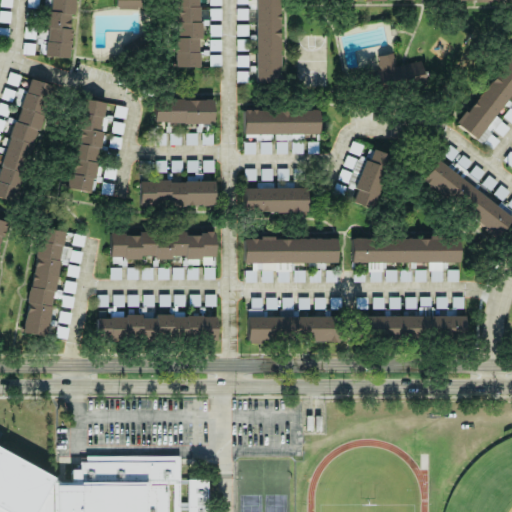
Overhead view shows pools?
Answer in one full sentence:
Yes, there's a pool here.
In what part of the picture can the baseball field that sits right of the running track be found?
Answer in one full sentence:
The baseball field that sits right of the running track appears toward the bottom right of the photo.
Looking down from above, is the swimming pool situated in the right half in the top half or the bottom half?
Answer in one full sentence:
The top half of the photo is where the swimming pool situated in the right half is.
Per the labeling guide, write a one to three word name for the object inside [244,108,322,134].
building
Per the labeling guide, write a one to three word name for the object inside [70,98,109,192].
building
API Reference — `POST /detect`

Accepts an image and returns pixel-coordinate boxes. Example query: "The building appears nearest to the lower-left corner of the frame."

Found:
[0,446,58,512]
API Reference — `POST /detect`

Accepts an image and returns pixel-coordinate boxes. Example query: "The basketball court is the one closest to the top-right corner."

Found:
[299,34,327,87]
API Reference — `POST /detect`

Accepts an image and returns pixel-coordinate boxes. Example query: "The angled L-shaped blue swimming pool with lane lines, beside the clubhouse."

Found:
[336,22,394,73]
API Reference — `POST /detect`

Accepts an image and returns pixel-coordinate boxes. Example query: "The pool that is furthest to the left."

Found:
[92,9,144,62]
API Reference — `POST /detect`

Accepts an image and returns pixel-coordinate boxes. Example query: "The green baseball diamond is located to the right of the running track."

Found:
[446,438,512,512]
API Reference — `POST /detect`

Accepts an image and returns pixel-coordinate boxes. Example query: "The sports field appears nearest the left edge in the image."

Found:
[316,446,420,512]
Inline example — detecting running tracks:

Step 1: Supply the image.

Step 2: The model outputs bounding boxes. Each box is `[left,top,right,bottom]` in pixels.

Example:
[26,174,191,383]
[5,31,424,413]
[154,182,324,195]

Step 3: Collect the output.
[308,439,429,512]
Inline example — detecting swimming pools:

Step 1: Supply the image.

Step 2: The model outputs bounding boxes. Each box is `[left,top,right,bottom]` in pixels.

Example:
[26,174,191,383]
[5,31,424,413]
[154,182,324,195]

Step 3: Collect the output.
[92,9,144,62]
[336,22,394,73]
